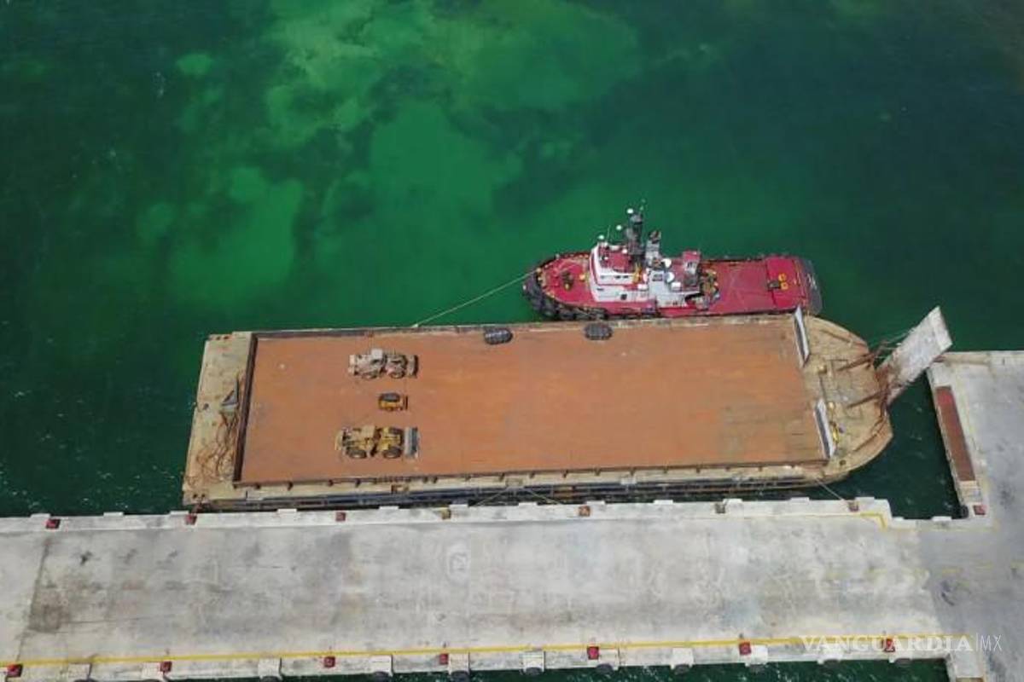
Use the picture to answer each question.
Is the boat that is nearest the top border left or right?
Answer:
right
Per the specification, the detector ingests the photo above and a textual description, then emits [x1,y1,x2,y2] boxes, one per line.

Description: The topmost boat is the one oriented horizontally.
[515,206,822,322]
